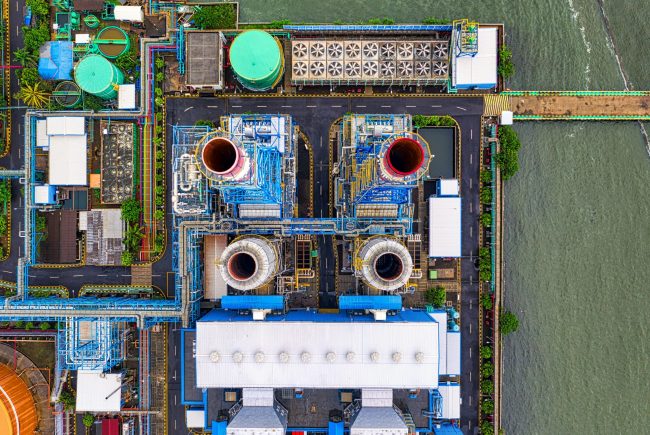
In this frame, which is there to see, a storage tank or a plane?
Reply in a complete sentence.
I can see a storage tank in this picture.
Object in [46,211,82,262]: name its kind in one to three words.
shed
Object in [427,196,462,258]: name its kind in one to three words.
building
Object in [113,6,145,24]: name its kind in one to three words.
shed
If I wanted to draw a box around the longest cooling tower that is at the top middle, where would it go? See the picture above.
[291,38,457,97]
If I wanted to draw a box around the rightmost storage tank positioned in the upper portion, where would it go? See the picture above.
[229,27,288,92]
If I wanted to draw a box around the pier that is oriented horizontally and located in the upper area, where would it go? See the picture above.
[483,91,650,121]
